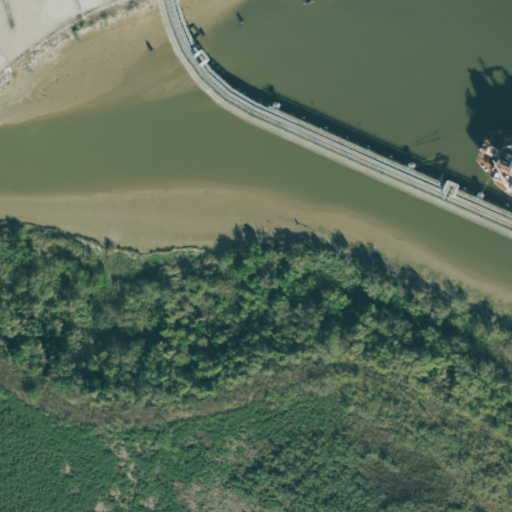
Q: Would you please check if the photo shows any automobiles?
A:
No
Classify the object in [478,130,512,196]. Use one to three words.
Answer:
ship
